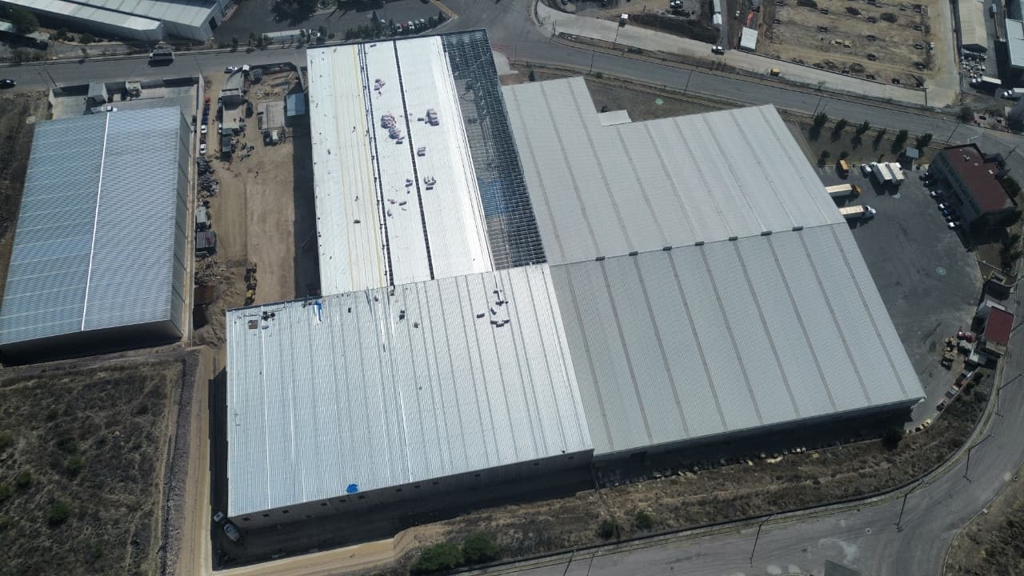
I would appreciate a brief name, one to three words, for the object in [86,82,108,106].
building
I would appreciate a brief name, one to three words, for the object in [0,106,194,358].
warehouse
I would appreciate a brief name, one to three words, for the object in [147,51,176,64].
vehicle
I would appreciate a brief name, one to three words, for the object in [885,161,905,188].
vehicle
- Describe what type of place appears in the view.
industrial area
